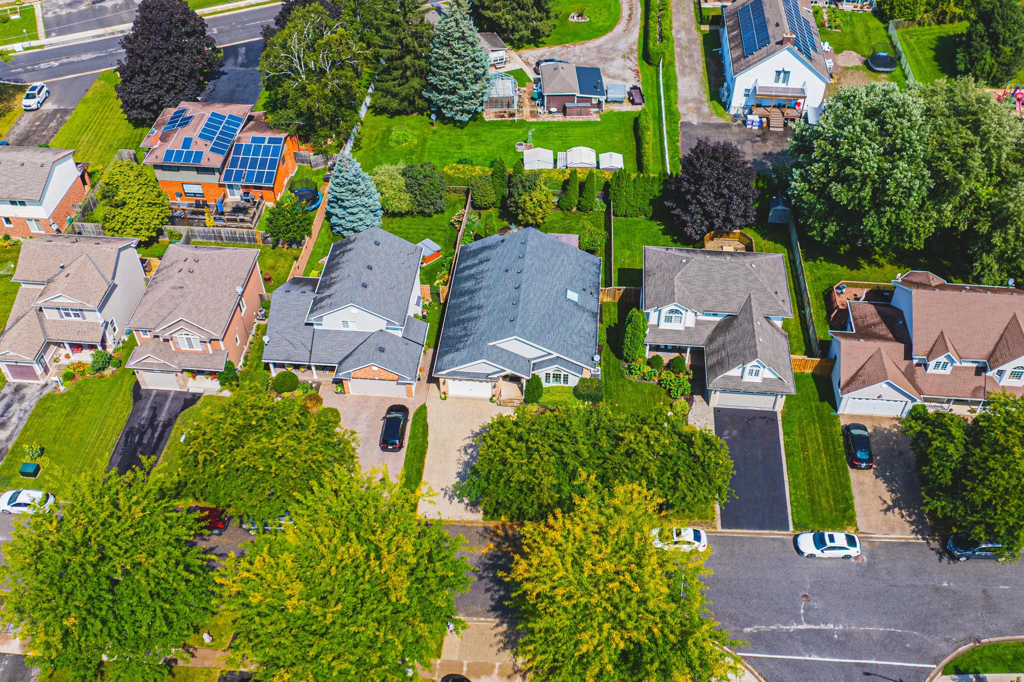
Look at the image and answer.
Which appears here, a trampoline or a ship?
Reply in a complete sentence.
It is a trampoline that can be seen here.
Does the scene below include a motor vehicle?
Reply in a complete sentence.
Yes, the image includes a motor vehicle.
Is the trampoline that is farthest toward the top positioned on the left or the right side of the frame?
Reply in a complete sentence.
The trampoline that is farthest toward the top sits on the right side.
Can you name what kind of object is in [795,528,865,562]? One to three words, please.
car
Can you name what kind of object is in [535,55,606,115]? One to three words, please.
building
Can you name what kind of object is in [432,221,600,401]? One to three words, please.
house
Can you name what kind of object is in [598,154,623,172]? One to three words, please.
shed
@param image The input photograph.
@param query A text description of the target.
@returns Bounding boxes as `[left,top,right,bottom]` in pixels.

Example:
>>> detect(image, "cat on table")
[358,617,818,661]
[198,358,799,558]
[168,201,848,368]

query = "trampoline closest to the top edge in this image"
[865,44,898,74]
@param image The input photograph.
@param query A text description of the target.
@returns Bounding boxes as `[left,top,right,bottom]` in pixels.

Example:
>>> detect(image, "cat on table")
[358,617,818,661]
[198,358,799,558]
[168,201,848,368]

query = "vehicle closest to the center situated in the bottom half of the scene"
[379,402,409,448]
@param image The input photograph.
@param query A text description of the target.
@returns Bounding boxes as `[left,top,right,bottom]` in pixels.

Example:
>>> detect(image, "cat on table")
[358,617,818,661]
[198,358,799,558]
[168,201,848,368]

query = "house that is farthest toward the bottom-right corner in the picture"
[824,267,1024,422]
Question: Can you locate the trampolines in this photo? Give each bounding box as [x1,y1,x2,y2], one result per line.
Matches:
[287,180,324,211]
[865,44,898,74]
